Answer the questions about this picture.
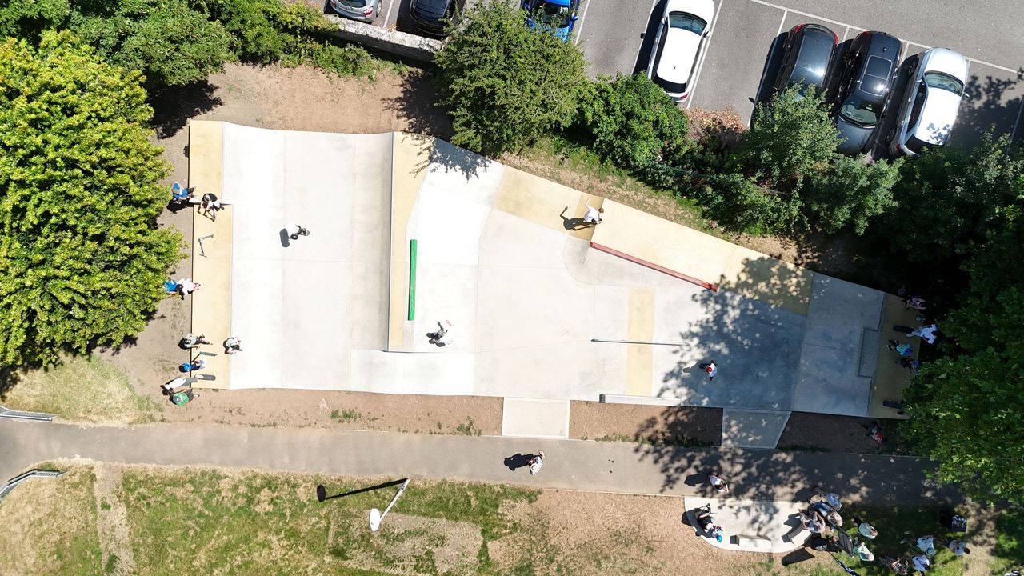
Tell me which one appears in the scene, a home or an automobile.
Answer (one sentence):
The one in the frame is an automobile.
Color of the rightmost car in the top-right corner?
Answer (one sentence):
The color of the rightmost car in the top-right corner is white.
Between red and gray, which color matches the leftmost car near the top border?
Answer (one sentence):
In this view, the leftmost car near the top border is gray.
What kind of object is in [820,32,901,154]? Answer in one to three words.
car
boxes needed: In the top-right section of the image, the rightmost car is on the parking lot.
[890,44,975,159]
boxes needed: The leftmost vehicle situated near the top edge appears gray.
[331,0,387,24]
